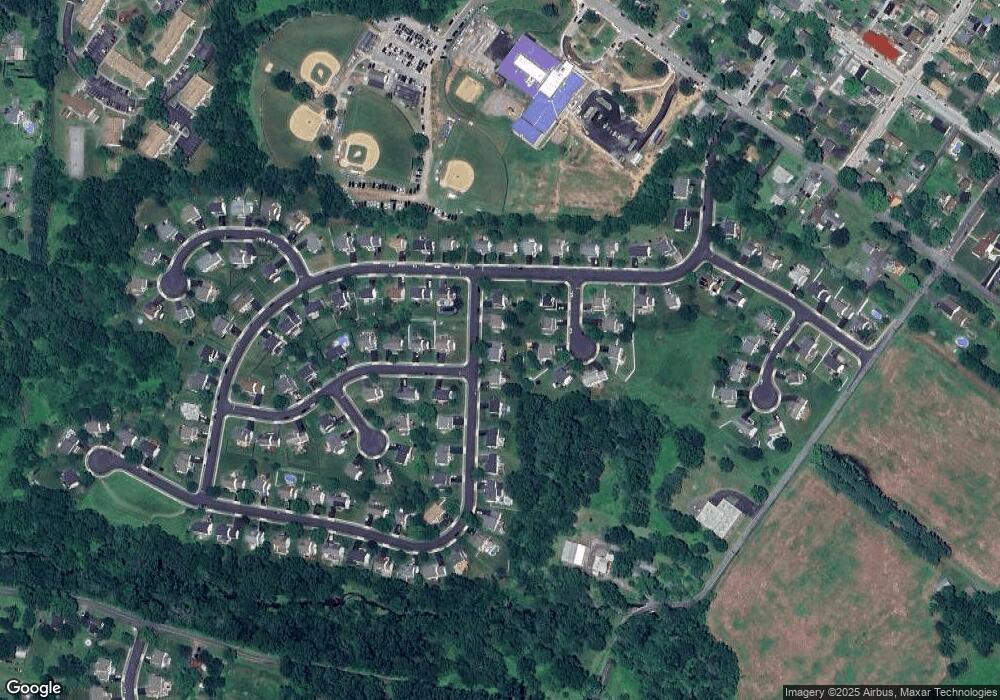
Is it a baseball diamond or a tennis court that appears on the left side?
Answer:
baseball diamond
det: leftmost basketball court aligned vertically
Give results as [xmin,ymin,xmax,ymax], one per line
[69,127,84,178]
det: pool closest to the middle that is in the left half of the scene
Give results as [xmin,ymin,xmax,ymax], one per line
[335,334,351,348]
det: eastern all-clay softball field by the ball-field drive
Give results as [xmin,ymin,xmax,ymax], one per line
[436,160,475,197]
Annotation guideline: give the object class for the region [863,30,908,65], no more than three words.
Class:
building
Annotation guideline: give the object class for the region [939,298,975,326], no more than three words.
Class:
house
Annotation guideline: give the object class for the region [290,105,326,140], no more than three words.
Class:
baseball field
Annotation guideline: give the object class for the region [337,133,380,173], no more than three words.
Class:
baseball field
